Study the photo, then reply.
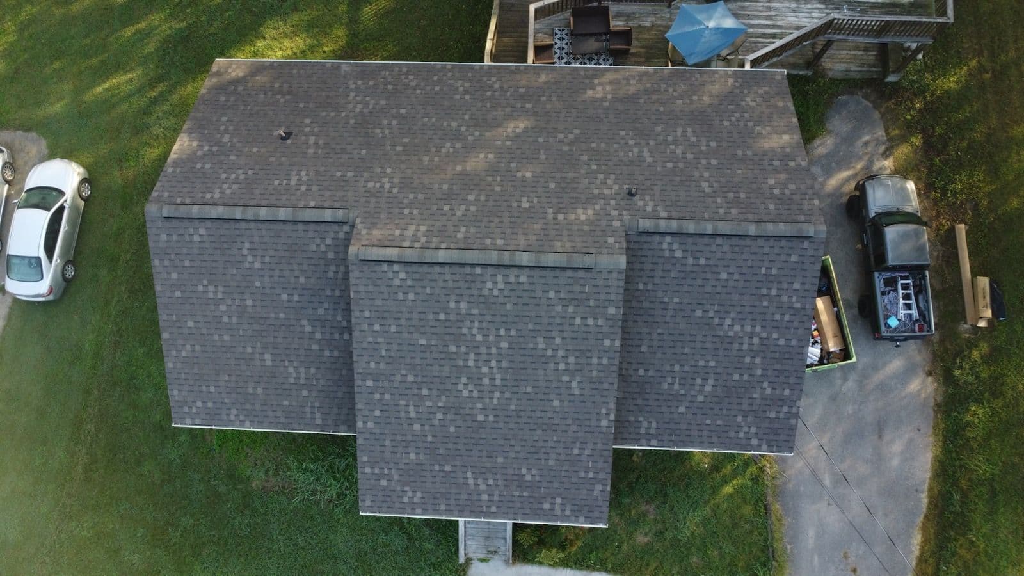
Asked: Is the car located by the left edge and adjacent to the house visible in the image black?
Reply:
No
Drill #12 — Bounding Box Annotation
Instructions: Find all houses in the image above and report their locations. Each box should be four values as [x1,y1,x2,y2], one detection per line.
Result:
[146,55,825,532]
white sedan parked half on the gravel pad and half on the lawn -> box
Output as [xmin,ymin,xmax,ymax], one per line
[3,161,96,306]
